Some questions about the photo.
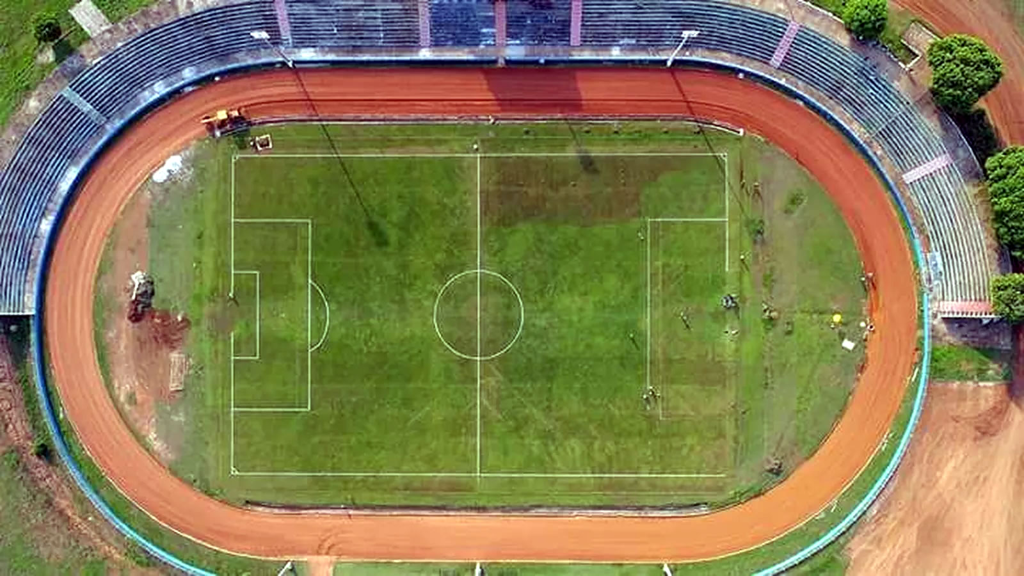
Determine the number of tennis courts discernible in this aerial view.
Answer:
0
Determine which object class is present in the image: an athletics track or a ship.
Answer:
athletics track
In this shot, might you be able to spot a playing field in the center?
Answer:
Yes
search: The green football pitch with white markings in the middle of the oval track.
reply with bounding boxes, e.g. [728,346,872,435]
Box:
[225,146,734,484]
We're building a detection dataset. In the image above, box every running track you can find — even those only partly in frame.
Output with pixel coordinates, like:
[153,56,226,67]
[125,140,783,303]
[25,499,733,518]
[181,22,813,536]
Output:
[45,67,918,565]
